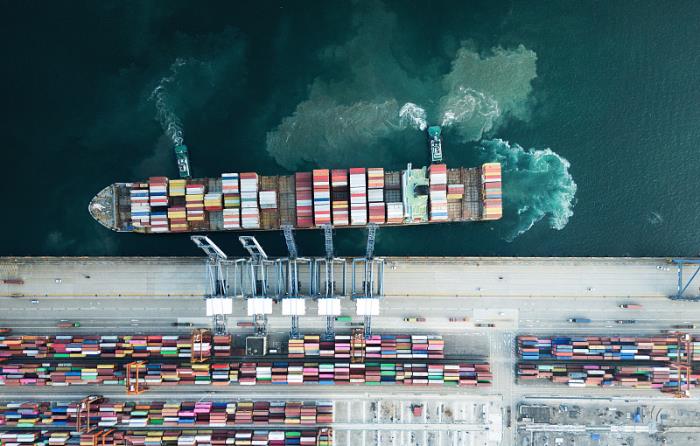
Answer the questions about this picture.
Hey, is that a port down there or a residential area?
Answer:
port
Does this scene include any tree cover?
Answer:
No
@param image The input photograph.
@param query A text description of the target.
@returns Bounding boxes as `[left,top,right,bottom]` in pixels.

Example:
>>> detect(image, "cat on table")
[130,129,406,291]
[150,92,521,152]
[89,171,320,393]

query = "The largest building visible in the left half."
[247,337,266,356]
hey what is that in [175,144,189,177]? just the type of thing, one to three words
boat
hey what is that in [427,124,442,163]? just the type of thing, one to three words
boat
